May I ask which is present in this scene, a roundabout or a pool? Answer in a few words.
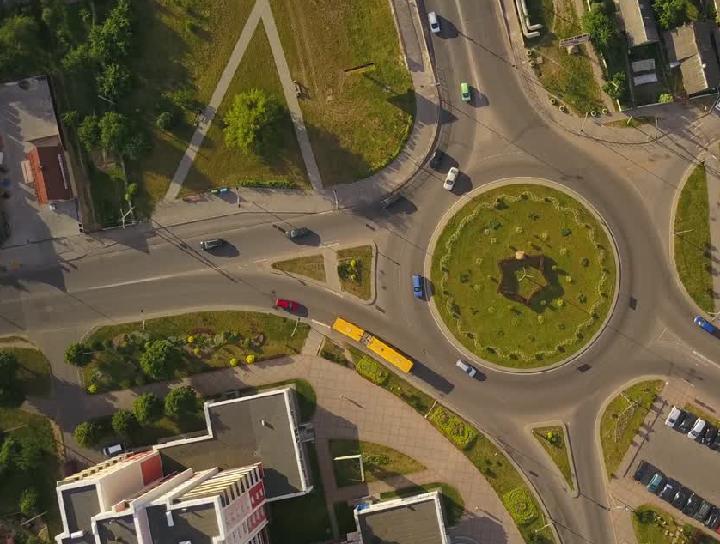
roundabout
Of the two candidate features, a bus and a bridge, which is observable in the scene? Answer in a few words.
bus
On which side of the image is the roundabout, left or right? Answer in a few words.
right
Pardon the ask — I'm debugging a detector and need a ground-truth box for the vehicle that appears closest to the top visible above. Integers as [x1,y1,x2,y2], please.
[427,10,441,35]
